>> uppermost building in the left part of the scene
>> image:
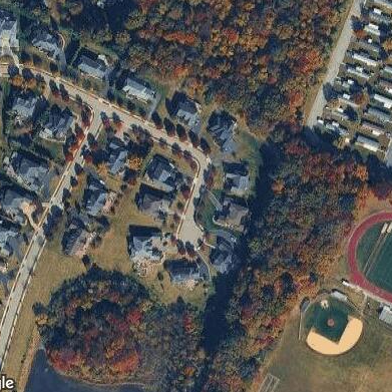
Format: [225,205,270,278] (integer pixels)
[0,18,20,44]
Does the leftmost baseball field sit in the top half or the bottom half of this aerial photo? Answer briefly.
bottom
